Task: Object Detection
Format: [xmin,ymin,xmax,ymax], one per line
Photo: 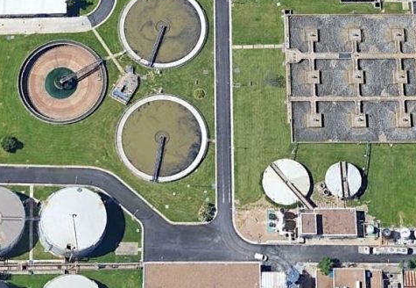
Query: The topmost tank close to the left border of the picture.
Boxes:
[17,40,107,124]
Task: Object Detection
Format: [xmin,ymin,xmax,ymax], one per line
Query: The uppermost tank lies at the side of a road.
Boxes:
[116,0,209,70]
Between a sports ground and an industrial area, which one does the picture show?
industrial area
